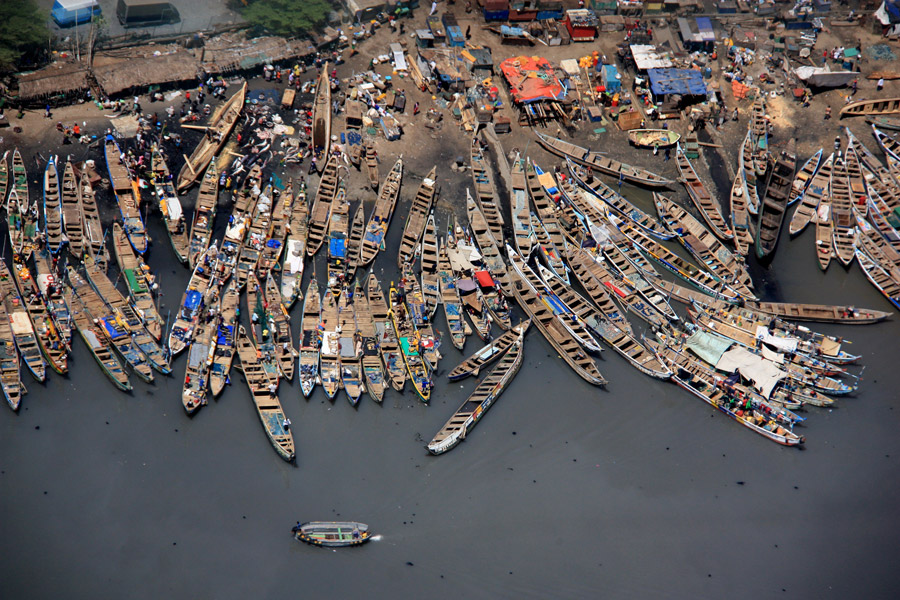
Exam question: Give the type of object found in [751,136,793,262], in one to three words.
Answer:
boat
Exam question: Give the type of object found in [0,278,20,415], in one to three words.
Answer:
boat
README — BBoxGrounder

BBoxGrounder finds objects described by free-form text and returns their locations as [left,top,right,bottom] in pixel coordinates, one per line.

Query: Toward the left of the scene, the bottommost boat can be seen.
[292,524,374,546]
